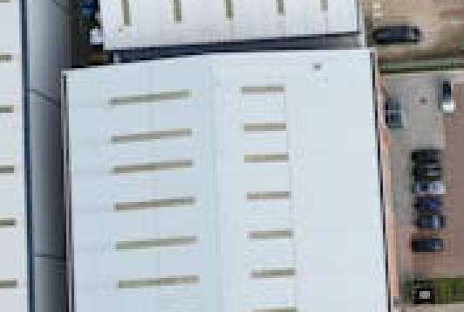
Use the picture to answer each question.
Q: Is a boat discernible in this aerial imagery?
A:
No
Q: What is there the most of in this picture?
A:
buildings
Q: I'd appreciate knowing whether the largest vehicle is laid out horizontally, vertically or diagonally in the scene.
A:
horizontally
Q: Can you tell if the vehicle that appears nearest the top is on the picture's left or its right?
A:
right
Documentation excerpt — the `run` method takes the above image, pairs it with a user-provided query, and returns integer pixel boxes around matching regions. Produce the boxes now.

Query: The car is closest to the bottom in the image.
[411,237,444,252]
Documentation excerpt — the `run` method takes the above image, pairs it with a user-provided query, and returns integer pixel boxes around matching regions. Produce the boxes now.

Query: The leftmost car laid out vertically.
[386,98,402,131]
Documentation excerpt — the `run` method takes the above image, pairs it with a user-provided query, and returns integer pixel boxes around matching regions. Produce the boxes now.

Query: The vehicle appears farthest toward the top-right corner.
[375,24,417,44]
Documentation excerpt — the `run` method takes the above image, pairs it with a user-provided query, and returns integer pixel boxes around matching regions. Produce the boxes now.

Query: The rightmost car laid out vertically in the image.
[440,81,456,113]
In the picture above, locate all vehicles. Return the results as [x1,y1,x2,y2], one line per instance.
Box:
[386,98,402,131]
[413,196,443,211]
[415,180,446,194]
[375,24,417,44]
[415,214,446,228]
[411,237,444,252]
[411,164,442,179]
[440,81,456,113]
[411,149,442,164]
